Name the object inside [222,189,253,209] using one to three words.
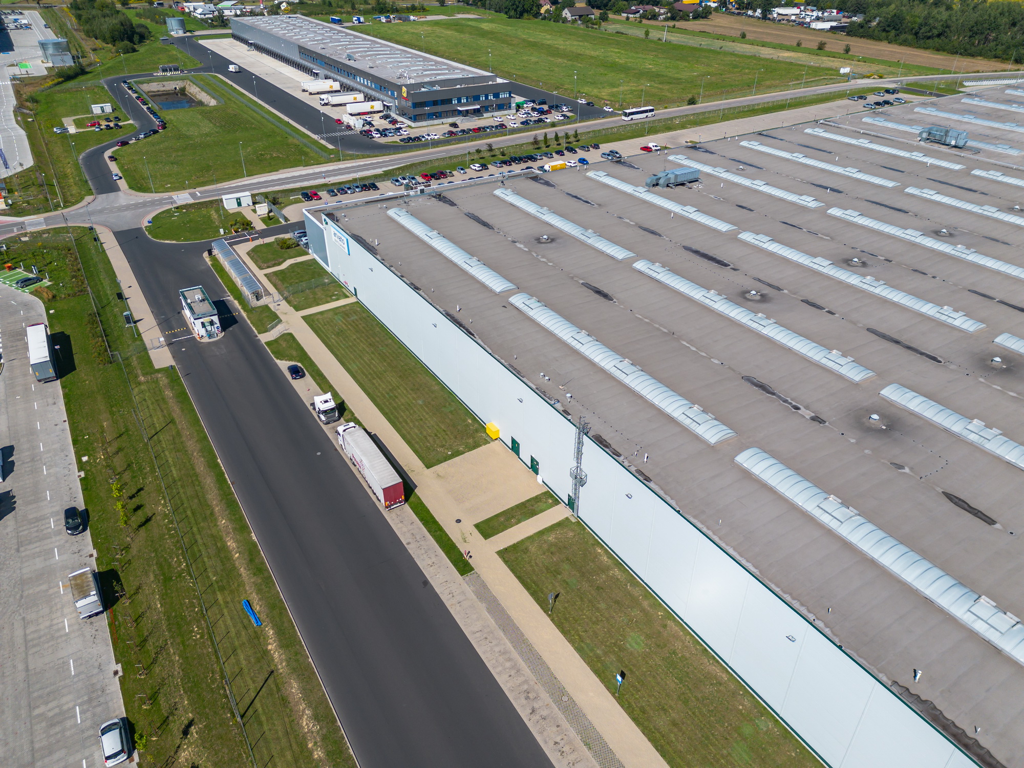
shed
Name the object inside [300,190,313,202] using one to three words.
vehicle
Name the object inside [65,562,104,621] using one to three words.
truck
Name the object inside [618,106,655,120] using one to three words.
vehicle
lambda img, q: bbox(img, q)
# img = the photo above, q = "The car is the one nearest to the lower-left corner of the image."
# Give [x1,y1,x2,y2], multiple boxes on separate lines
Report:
[93,714,127,764]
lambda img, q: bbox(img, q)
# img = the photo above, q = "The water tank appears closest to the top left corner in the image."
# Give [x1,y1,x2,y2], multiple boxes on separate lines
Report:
[39,41,75,64]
